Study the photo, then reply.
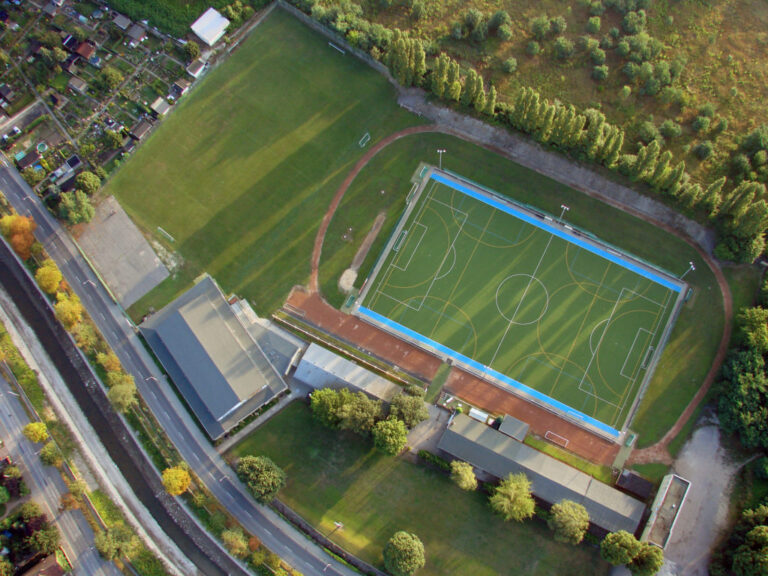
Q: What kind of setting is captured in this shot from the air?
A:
sports ground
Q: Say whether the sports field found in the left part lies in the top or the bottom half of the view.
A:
top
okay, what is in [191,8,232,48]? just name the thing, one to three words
building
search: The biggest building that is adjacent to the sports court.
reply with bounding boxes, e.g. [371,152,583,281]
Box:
[138,274,288,440]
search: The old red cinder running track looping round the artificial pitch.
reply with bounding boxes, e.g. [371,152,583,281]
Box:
[282,124,732,465]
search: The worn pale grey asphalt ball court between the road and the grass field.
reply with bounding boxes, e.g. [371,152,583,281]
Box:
[78,196,168,305]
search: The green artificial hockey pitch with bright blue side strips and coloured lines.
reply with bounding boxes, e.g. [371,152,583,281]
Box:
[349,165,692,447]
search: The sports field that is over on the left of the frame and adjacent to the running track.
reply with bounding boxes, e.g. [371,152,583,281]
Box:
[104,8,397,325]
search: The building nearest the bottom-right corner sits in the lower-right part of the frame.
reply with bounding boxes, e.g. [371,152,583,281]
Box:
[640,475,692,549]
